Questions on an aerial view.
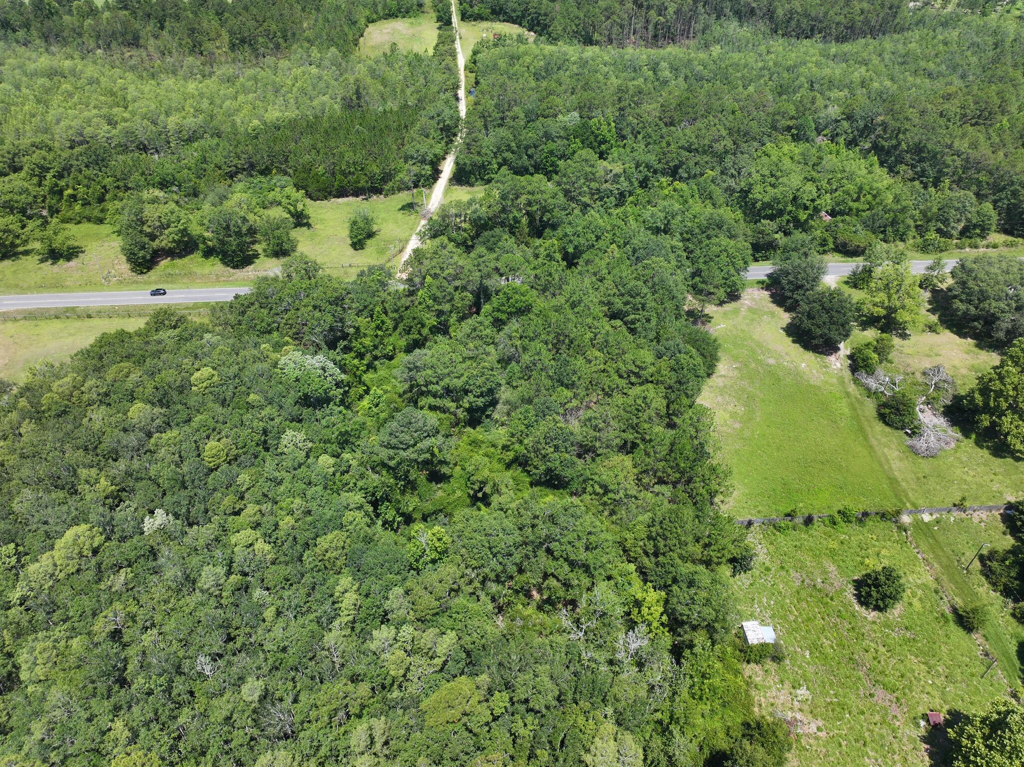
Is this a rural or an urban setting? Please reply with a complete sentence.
The land in this view is best described as rural.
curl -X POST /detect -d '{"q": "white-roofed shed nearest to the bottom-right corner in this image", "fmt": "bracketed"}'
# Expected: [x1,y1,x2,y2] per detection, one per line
[741,623,776,652]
